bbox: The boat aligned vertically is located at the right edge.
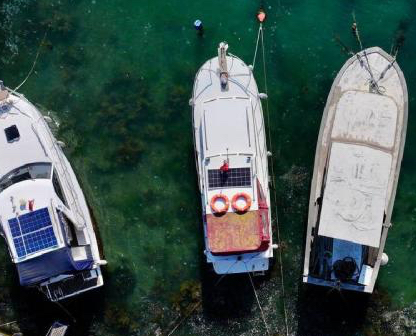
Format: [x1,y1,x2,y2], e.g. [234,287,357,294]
[303,45,407,295]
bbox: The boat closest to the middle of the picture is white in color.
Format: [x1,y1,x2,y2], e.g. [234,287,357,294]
[194,43,274,276]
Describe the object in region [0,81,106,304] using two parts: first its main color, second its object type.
white boat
